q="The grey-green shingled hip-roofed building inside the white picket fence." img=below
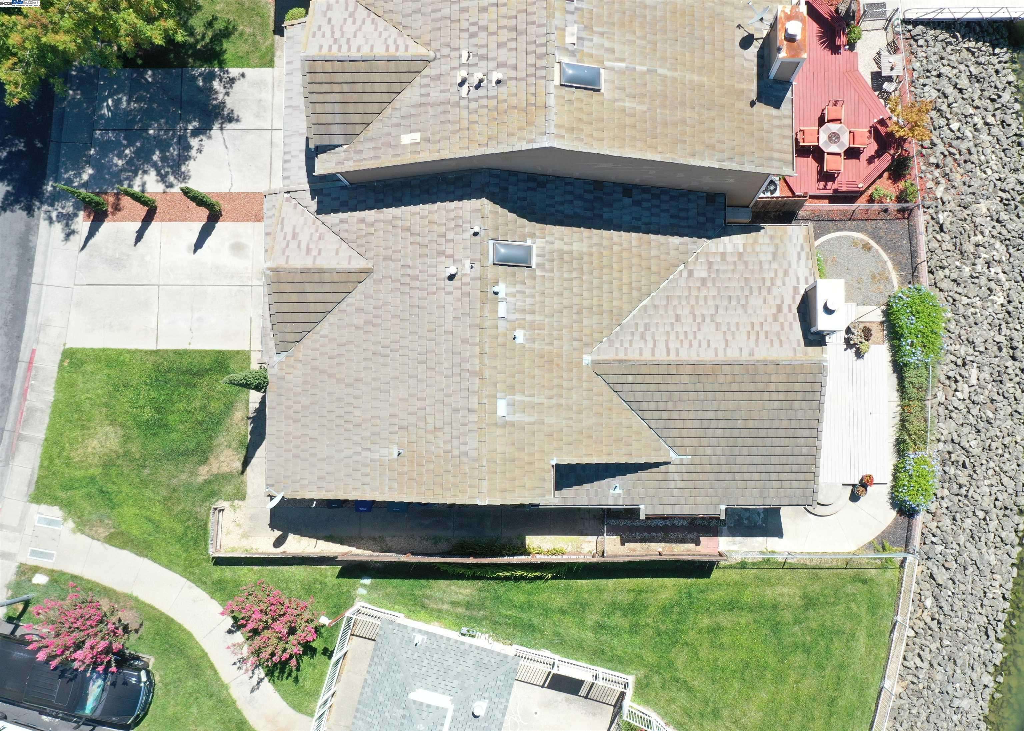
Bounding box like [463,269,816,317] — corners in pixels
[351,618,521,731]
